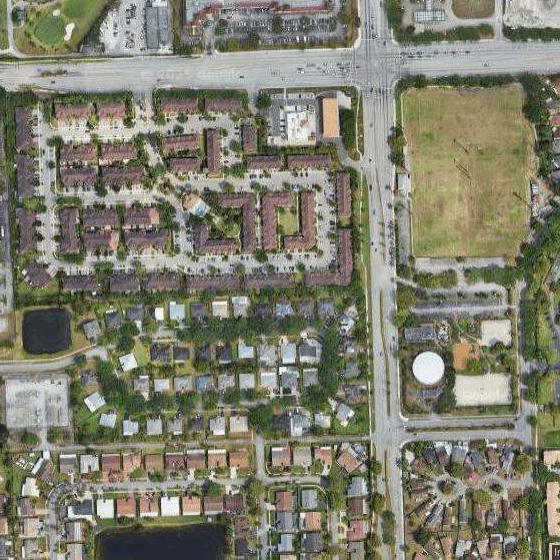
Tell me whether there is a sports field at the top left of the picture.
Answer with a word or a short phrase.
No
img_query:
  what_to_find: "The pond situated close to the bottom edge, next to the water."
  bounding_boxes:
[97,525,233,560]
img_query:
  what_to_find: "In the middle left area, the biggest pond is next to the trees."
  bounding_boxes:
[23,310,69,354]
